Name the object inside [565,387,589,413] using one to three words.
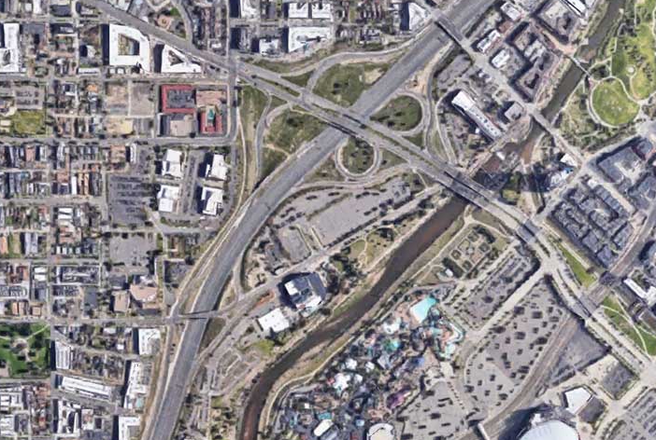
building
